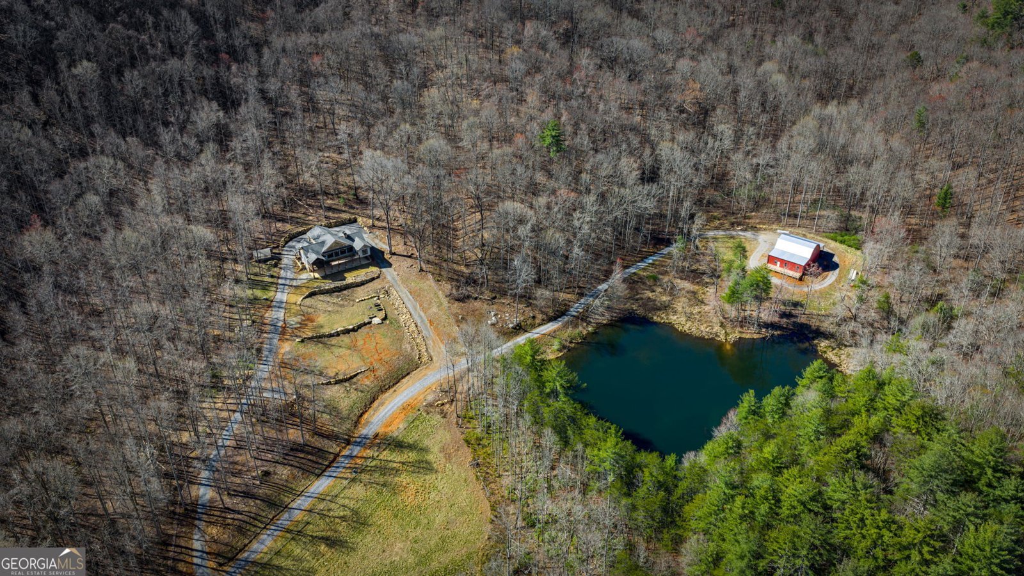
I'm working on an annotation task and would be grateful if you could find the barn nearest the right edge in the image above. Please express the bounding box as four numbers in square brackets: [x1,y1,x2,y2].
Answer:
[767,233,821,280]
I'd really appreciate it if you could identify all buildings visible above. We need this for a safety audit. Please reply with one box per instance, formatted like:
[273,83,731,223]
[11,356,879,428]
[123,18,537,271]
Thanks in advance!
[767,233,821,280]
[298,223,372,278]
[251,247,273,264]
